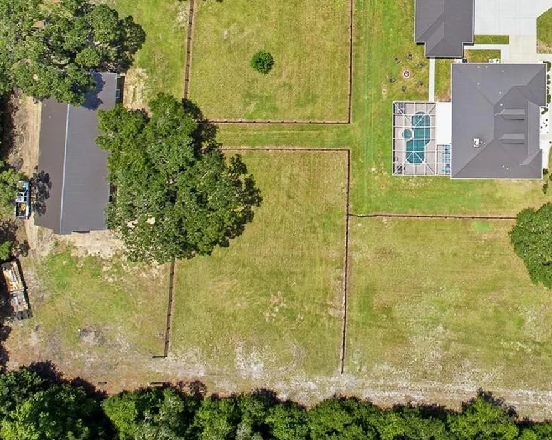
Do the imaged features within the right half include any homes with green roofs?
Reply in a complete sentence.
No, looking within the right half, there is no home with a green roof.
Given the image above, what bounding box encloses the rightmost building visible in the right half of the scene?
[451,62,547,180]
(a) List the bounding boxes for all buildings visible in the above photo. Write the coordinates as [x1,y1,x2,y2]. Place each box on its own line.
[415,0,474,57]
[34,69,127,235]
[451,62,547,180]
